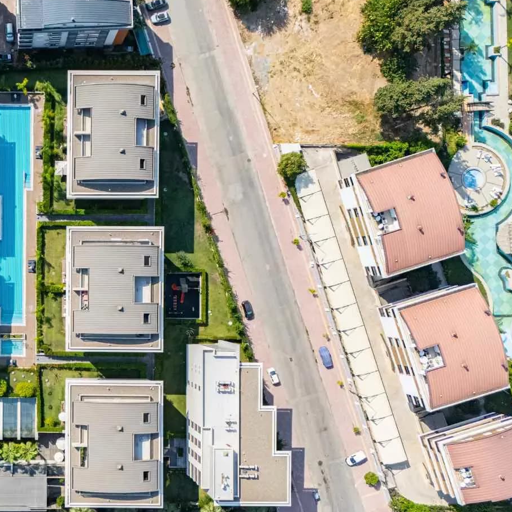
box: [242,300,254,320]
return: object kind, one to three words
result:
vehicle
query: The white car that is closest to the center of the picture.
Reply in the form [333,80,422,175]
[266,365,280,387]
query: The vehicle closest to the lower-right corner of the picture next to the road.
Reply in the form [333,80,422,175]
[344,450,369,466]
